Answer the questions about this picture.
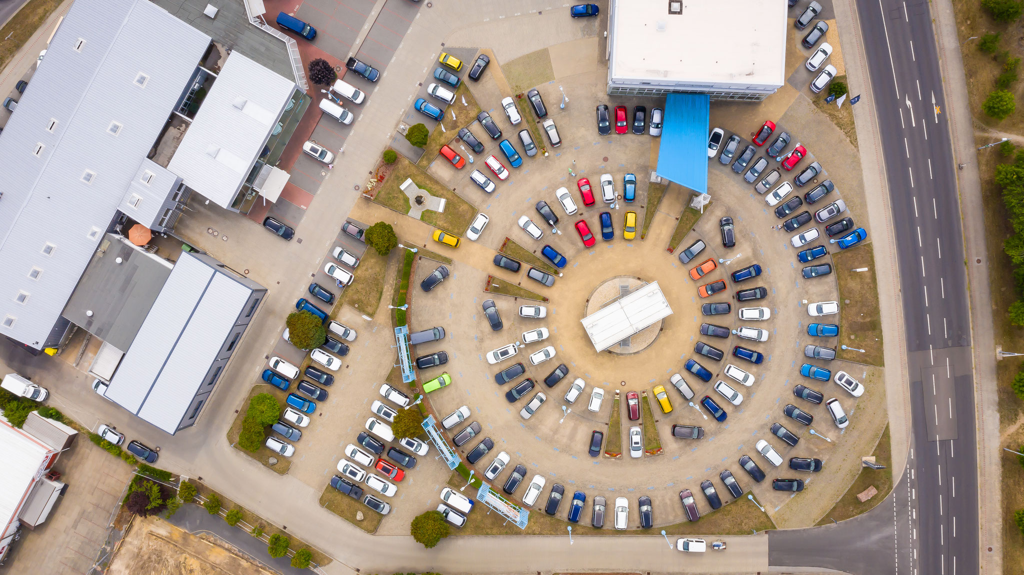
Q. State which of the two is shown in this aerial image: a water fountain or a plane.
water fountain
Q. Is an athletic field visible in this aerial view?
No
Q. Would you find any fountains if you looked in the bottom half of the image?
No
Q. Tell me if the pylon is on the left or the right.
right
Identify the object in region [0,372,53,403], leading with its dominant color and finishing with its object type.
white truck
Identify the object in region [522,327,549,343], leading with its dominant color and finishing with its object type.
white car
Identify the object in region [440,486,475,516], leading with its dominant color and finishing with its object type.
white vehicle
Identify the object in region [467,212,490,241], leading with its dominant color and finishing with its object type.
white car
